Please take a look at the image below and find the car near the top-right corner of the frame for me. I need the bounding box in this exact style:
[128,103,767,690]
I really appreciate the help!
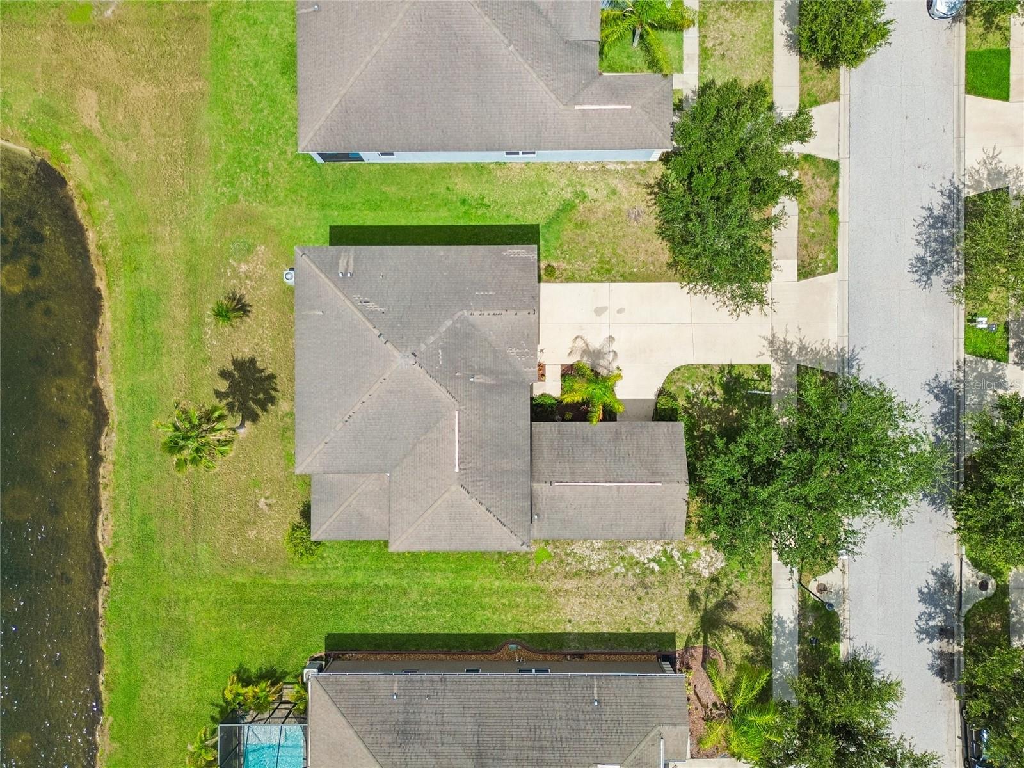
[924,0,961,23]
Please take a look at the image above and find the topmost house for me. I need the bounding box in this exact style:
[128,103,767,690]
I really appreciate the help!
[297,0,673,163]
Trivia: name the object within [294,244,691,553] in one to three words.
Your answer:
house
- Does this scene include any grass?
Yes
